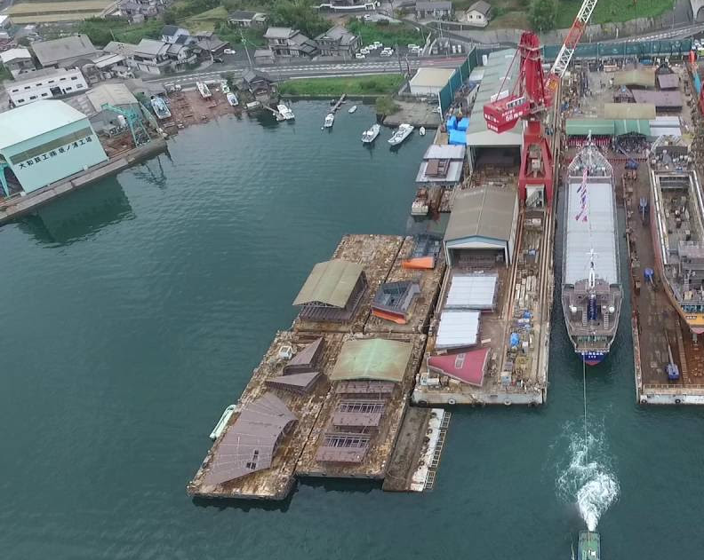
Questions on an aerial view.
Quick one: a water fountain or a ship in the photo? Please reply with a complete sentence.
The image shows a ship.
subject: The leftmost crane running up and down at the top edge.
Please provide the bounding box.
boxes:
[481,0,605,214]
